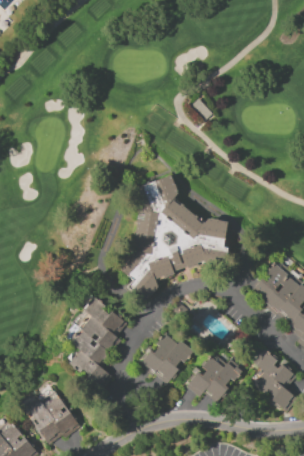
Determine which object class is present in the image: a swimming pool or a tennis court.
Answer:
swimming pool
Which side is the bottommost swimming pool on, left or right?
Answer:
right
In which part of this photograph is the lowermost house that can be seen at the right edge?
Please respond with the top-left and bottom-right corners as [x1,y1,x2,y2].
[255,351,296,408]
